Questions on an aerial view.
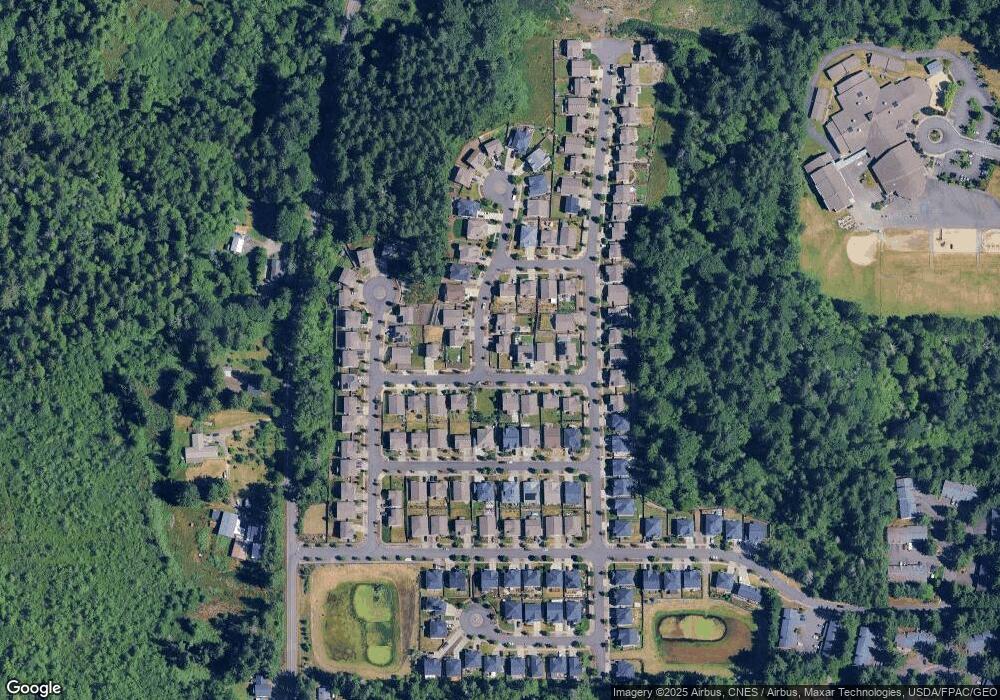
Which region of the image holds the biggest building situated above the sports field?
top right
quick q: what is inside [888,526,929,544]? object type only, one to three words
building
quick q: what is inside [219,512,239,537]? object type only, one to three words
barn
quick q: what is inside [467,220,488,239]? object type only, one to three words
house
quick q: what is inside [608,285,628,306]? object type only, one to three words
house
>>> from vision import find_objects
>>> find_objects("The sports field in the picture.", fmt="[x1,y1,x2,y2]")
[847,233,880,266]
